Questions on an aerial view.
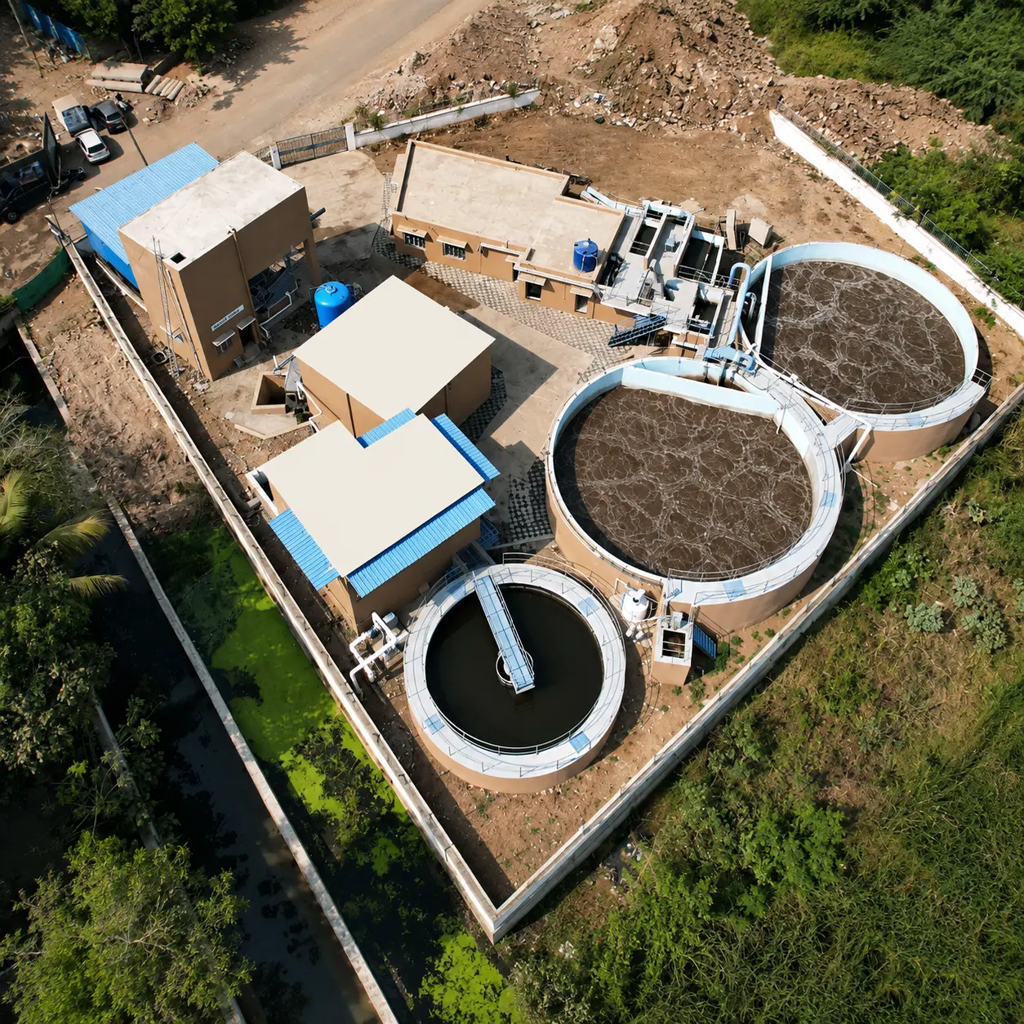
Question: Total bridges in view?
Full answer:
My tally gives 1 bridge in this photo.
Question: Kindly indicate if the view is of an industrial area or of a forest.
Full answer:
What you see here is an industrial area.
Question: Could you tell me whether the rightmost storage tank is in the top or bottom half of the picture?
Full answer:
You can find the rightmost storage tank in the top half.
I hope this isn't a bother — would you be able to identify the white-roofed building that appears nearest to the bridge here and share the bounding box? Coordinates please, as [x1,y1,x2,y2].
[259,412,500,629]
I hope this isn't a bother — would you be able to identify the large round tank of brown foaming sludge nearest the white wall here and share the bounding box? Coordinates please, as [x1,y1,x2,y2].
[727,232,992,467]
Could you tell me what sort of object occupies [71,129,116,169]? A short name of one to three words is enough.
car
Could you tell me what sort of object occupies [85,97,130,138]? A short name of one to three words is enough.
car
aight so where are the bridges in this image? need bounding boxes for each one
[479,571,535,691]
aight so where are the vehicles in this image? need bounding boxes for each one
[0,158,69,219]
[47,87,94,139]
[85,97,130,138]
[112,91,126,113]
[71,129,116,169]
